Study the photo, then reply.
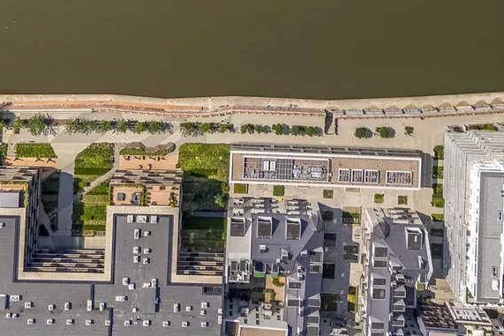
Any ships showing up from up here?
No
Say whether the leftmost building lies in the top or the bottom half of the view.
bottom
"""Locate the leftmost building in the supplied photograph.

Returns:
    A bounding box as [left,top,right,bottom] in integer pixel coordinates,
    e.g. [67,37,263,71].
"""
[0,161,225,336]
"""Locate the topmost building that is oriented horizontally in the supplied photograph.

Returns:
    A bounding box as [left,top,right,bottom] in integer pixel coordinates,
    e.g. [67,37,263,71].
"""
[230,140,421,189]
